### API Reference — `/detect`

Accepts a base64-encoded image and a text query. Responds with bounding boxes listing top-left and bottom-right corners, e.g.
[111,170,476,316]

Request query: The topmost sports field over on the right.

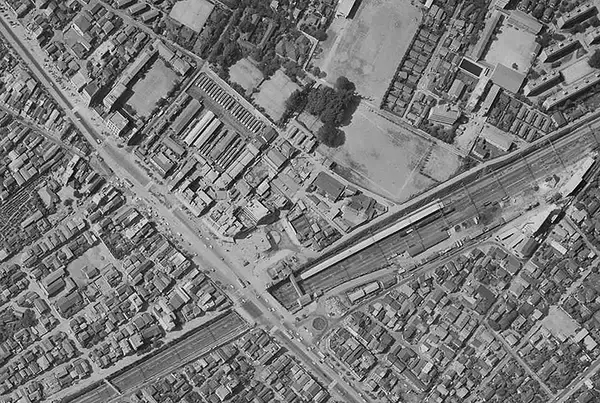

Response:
[311,0,423,99]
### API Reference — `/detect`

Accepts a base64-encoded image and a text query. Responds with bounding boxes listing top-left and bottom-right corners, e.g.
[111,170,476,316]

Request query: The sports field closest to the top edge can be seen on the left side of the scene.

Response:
[169,0,214,32]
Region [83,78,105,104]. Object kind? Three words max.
building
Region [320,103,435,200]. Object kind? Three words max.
sports field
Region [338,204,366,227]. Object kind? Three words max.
building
